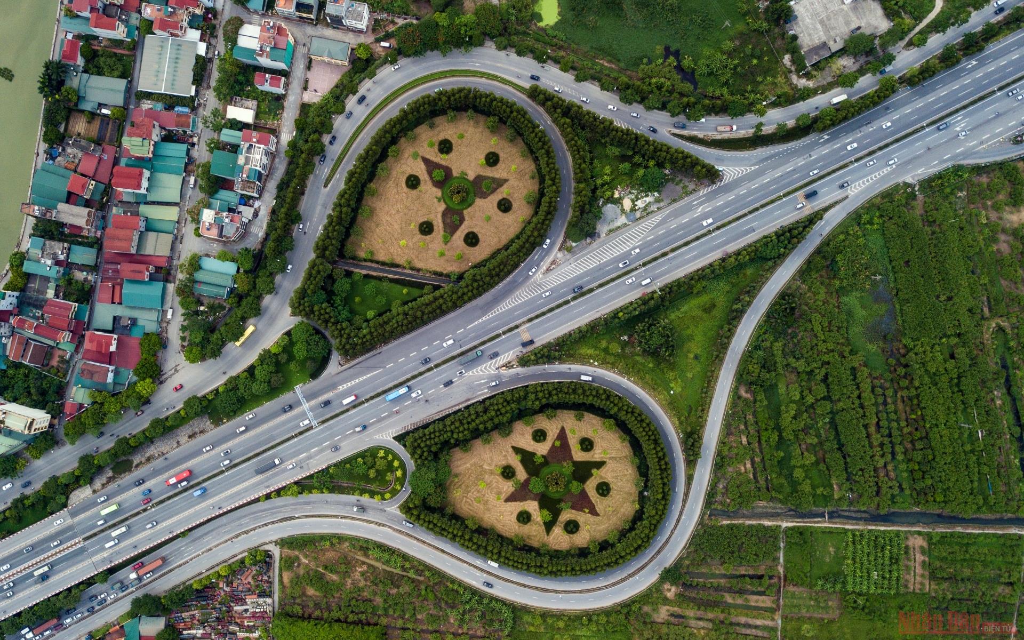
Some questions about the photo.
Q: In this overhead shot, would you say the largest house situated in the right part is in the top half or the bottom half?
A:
top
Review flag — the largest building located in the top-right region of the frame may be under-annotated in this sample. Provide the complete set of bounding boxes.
[801,42,831,66]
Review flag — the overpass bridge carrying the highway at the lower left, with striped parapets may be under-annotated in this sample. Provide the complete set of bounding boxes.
[0,509,96,619]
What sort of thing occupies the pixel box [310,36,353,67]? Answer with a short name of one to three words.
building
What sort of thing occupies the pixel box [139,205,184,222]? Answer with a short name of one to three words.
house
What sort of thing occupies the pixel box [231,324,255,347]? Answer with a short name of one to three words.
bus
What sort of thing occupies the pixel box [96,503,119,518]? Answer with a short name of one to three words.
vehicle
